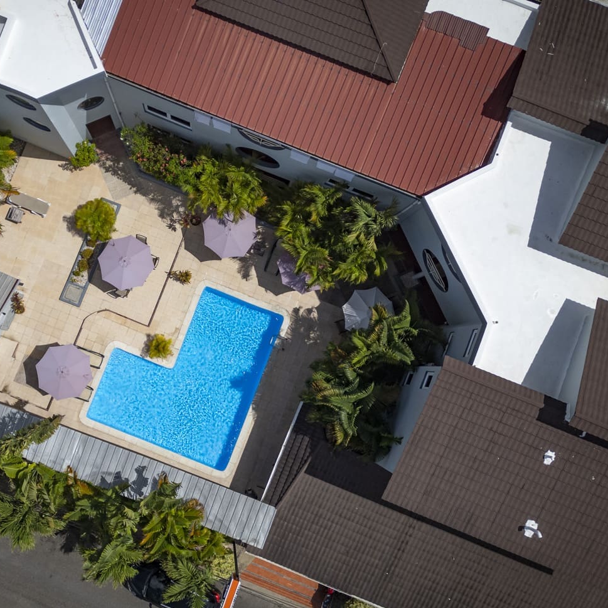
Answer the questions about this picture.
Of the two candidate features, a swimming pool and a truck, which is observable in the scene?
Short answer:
swimming pool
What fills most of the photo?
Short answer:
buildings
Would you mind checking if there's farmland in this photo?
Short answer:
No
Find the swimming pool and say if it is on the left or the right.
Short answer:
left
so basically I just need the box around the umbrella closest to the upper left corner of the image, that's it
[99,236,158,294]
